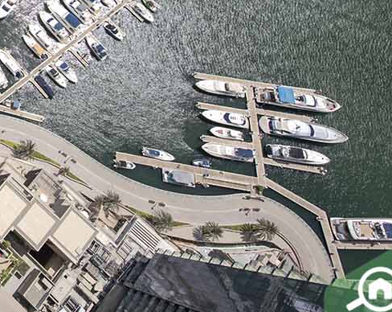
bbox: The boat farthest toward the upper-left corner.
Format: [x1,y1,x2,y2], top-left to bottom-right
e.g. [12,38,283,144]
[0,0,19,19]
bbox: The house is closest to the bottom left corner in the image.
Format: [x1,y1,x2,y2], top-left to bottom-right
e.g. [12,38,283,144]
[21,270,64,309]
